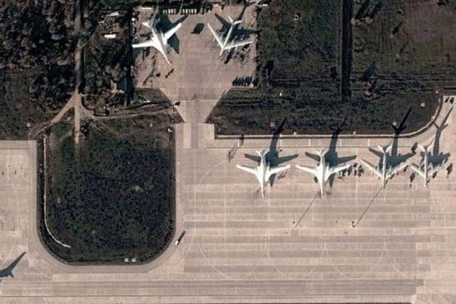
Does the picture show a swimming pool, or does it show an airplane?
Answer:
airplane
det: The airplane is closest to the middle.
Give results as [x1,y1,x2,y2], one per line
[236,149,291,198]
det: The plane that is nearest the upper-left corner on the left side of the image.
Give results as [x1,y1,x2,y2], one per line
[132,19,181,65]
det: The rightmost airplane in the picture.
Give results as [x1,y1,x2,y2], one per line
[410,141,444,187]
